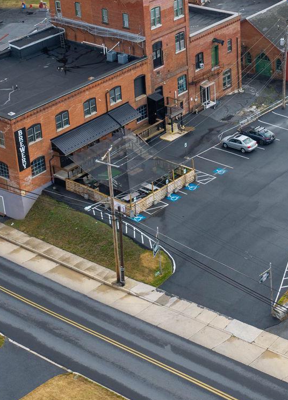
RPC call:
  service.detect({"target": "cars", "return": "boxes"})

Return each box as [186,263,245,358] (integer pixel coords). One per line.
[239,122,276,142]
[221,133,259,151]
